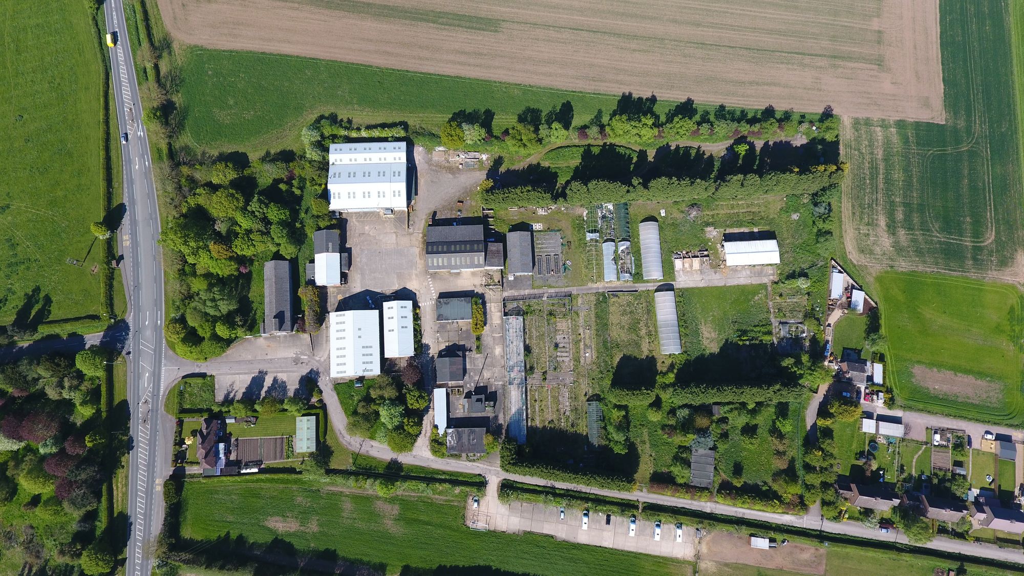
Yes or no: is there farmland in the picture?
Yes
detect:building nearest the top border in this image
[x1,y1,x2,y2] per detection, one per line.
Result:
[328,141,407,167]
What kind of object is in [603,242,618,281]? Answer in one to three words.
greenhouse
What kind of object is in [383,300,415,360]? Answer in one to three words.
building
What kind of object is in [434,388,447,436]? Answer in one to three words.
shed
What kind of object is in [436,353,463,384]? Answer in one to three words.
house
